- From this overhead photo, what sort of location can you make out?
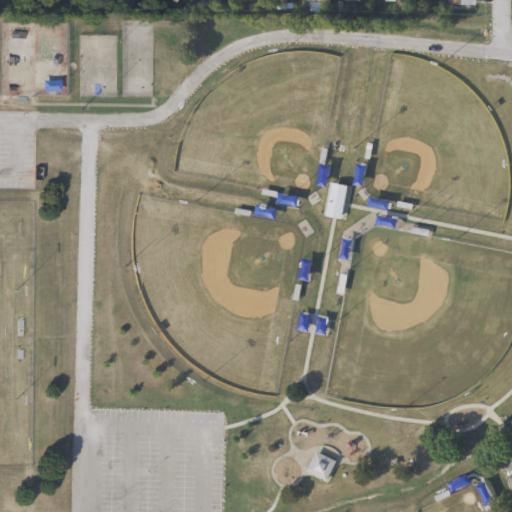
sports ground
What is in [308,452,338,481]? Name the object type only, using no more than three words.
building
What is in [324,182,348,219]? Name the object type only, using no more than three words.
building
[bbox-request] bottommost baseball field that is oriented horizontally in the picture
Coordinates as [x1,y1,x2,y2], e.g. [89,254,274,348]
[411,485,486,512]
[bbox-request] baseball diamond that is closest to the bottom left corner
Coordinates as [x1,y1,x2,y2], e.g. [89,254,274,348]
[134,193,303,395]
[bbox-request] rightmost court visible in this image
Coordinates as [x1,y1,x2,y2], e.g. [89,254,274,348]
[122,21,154,97]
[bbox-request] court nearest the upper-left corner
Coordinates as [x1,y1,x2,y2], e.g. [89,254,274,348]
[80,36,118,97]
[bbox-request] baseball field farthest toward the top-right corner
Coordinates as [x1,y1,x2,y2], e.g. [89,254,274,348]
[362,53,510,222]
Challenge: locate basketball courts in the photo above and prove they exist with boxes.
[122,21,154,97]
[80,36,118,97]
